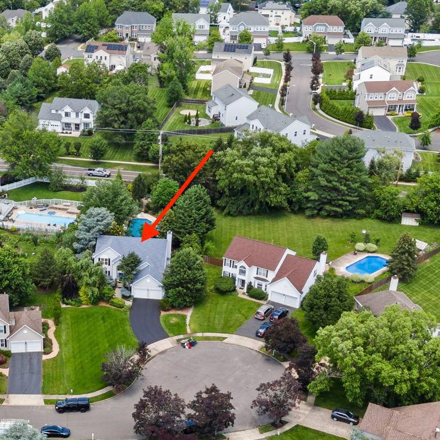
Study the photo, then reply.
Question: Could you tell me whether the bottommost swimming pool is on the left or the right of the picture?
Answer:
right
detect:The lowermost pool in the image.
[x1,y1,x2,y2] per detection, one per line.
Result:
[344,255,390,276]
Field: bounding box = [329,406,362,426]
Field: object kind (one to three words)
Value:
car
